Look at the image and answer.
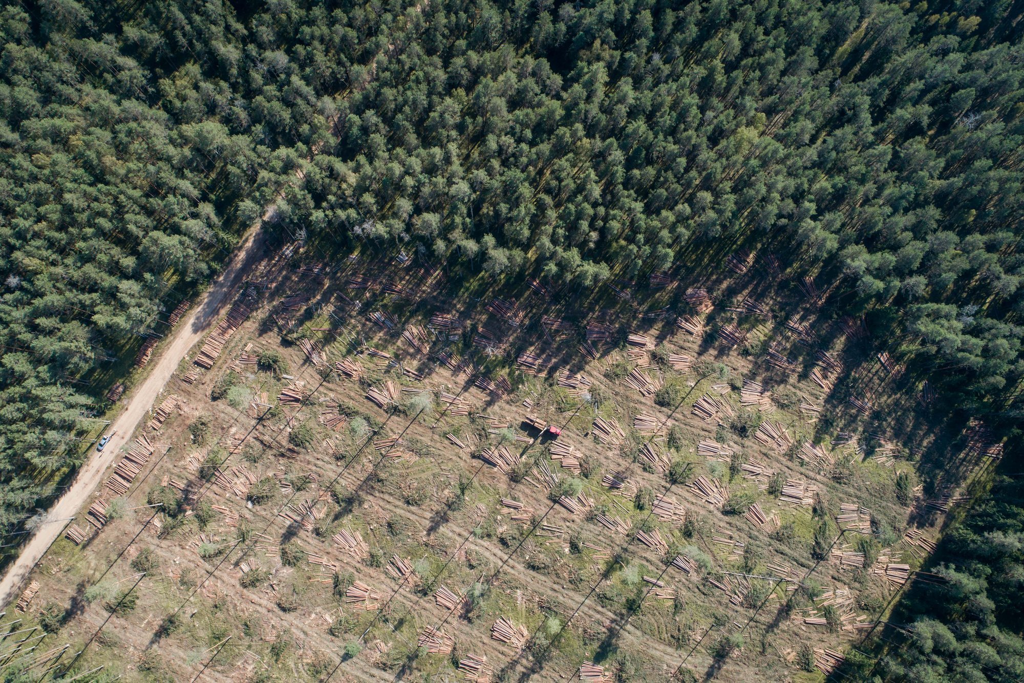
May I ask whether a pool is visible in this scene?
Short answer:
No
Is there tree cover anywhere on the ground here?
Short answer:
Yes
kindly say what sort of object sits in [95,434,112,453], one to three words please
car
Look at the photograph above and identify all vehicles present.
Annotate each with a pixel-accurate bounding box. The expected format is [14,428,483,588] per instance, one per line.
[95,434,112,453]
[530,413,561,443]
